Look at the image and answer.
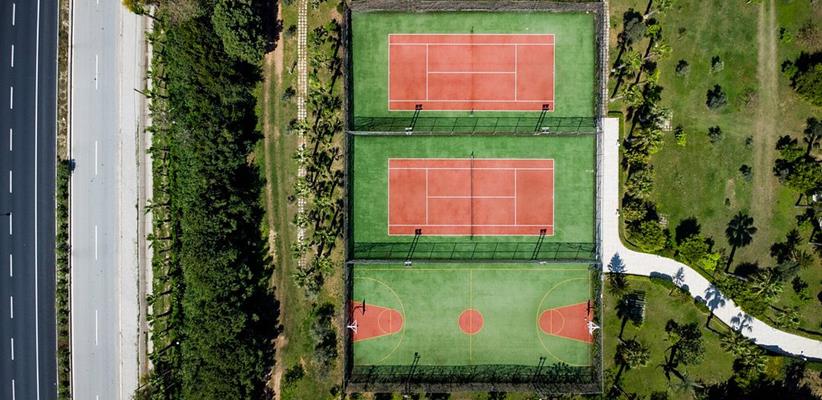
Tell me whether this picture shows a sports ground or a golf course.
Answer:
sports ground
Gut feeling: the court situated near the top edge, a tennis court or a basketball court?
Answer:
tennis court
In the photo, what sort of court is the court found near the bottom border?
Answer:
basketball court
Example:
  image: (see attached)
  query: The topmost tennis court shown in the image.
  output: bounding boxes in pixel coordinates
[349,10,597,132]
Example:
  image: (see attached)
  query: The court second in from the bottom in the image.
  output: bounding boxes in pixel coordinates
[349,135,597,261]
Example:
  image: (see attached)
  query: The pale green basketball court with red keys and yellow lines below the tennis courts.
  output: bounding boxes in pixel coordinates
[349,264,597,385]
